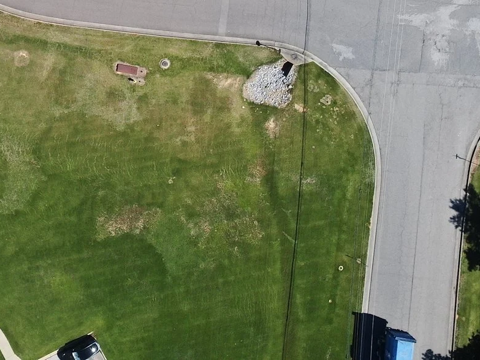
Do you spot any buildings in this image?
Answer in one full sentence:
No, no building is visible in the view.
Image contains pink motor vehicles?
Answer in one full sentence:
No, there is no pink motor vehicle in the image.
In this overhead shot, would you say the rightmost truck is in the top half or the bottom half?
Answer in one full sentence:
The rightmost truck is in the bottom half of the image.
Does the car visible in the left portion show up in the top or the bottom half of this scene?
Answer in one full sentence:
The car visible in the left portion sits in the bottom half of the picture.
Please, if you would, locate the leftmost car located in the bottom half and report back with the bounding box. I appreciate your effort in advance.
[61,338,103,360]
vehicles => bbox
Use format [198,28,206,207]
[378,322,414,360]
[61,338,103,360]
